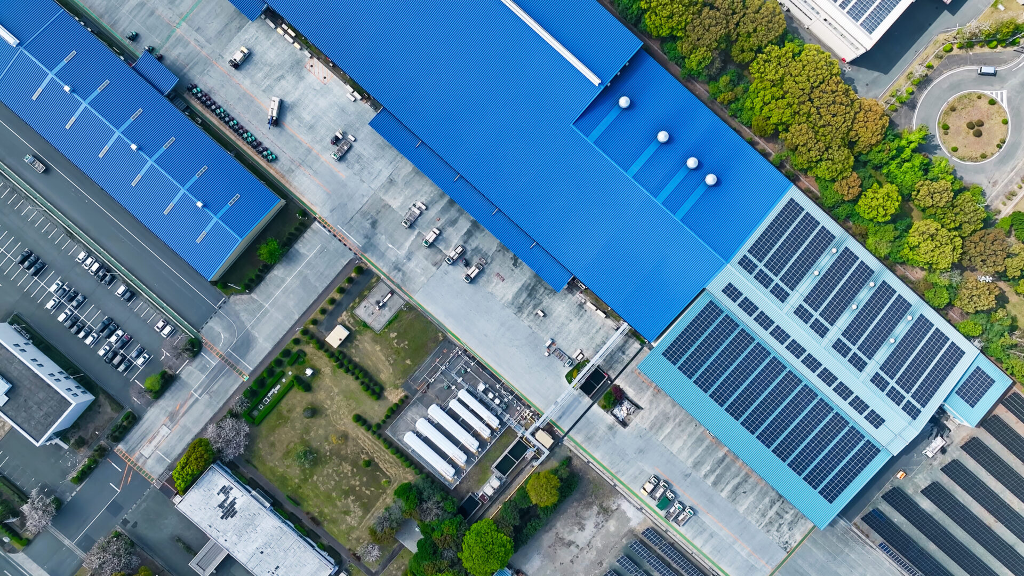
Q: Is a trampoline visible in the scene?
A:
No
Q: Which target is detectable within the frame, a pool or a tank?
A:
tank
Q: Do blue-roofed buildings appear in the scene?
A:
Yes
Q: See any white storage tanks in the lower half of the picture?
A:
Yes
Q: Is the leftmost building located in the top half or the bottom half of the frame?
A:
bottom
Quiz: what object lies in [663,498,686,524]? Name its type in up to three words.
truck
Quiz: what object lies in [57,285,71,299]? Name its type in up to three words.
car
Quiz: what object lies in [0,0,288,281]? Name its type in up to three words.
building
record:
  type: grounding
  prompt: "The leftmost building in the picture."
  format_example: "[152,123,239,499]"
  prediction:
[0,317,94,454]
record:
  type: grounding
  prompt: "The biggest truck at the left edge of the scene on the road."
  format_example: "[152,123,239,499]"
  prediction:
[19,151,49,175]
